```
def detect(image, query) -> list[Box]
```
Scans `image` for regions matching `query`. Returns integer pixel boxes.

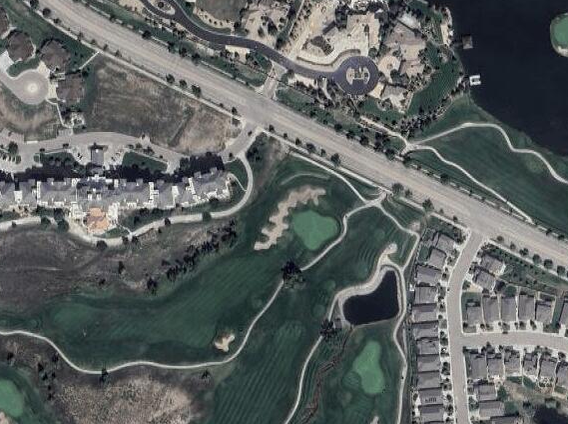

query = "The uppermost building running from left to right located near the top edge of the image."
[245,0,295,24]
